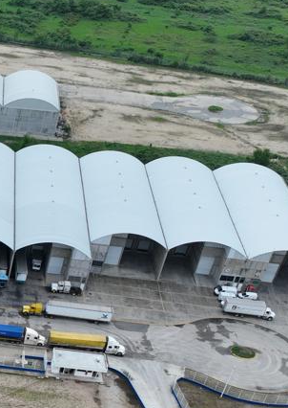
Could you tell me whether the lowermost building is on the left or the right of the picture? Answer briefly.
left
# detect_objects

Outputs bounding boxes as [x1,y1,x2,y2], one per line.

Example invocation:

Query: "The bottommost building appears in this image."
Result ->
[45,348,108,386]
